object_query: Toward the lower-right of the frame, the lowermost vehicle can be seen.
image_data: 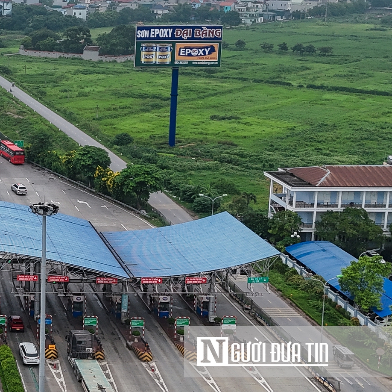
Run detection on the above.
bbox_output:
[315,331,355,362]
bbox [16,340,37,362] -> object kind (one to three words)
car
